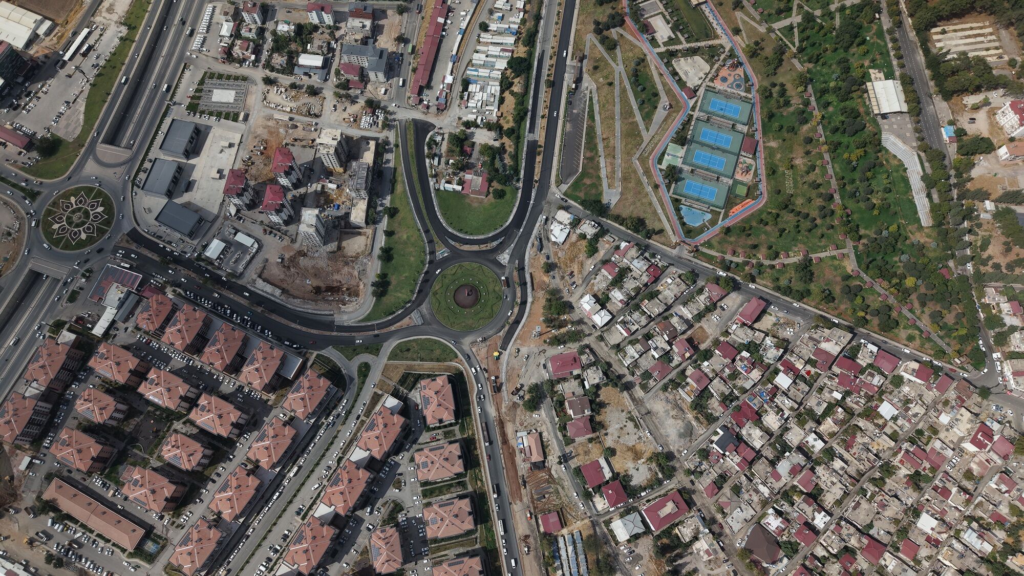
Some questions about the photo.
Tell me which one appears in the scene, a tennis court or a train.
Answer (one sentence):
The image shows a tennis court.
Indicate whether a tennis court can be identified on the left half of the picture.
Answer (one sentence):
No, no tennis court is visible on the left half of the picture.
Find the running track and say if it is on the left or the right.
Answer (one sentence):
You can find the running track on the right side of the picture.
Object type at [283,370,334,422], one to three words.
building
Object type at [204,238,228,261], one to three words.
shed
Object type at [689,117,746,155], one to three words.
tennis court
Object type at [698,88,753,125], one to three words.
tennis court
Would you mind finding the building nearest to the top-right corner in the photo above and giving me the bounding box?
[986,97,1024,139]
